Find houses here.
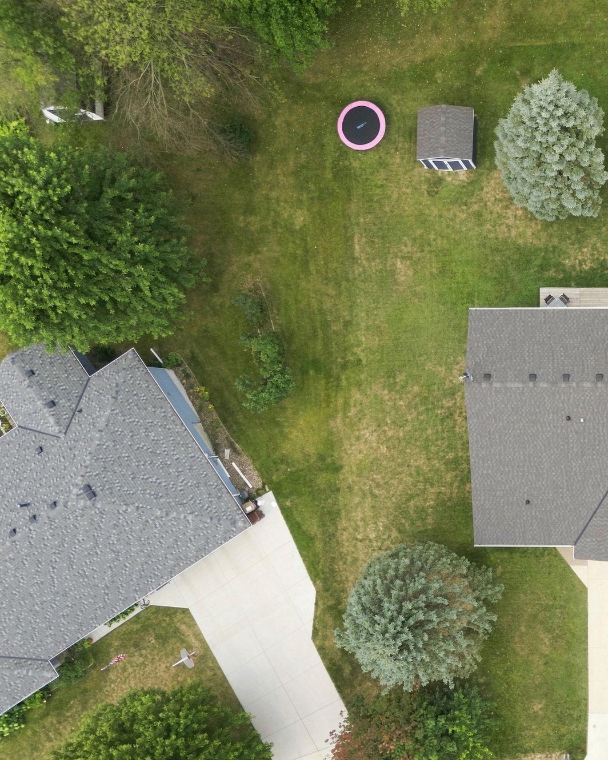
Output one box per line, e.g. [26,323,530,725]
[459,305,608,563]
[0,330,258,715]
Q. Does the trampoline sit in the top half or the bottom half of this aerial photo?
top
